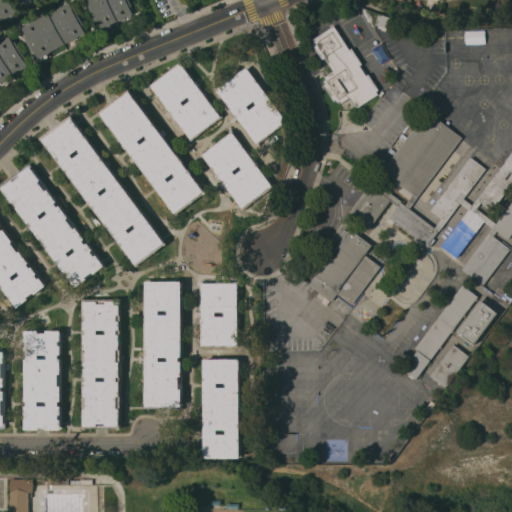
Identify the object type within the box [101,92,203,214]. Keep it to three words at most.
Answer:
building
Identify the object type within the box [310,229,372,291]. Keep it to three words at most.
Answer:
building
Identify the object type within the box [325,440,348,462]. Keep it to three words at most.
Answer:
basketball court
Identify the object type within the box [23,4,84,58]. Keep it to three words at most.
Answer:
house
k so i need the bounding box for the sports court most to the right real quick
[446,29,512,144]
